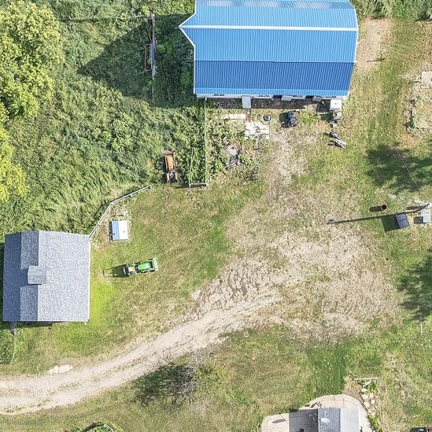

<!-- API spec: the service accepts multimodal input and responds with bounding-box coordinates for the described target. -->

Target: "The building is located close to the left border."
[2,232,90,323]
